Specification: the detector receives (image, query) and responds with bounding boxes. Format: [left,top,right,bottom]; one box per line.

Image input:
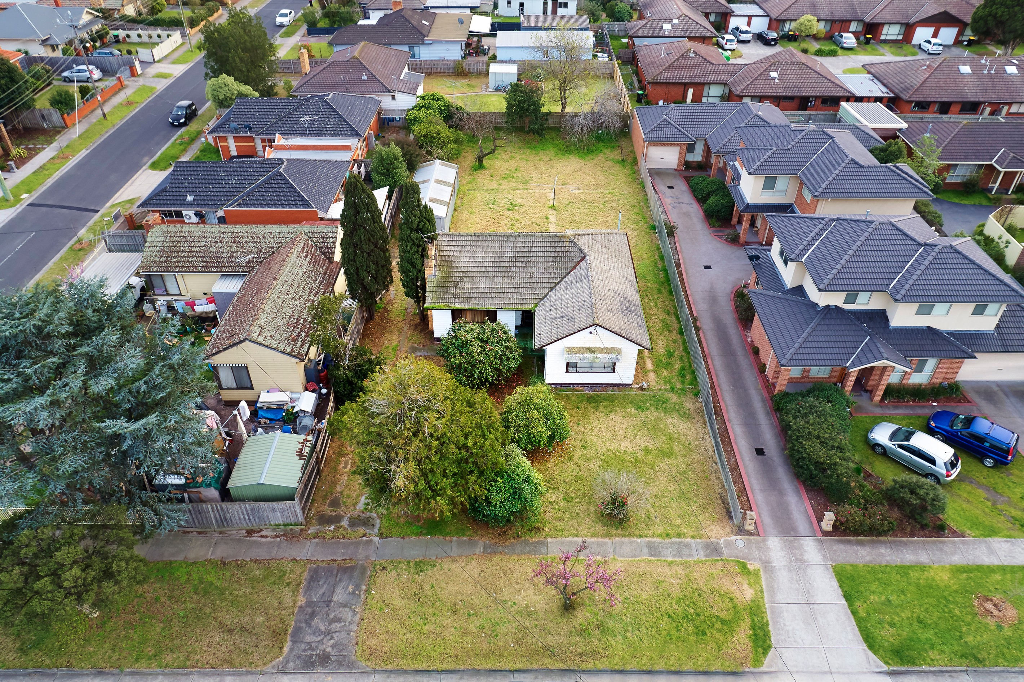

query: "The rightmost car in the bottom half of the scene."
[923,411,1024,470]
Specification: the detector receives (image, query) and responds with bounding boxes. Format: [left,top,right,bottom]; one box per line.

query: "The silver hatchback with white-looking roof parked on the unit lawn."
[867,425,964,486]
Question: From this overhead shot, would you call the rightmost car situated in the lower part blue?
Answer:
Yes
